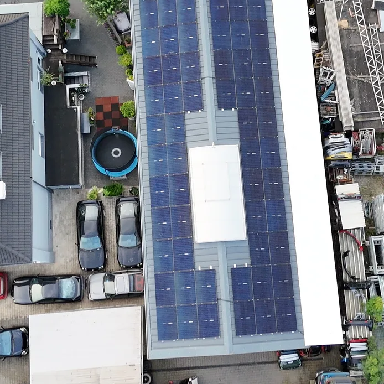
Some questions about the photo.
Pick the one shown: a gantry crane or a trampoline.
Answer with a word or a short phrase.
trampoline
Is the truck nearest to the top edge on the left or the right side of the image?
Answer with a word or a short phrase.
right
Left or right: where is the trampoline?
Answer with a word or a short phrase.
left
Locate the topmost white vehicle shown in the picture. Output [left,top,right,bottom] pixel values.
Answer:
[332,184,368,229]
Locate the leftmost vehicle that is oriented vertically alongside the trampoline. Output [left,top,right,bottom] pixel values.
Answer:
[73,199,108,272]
